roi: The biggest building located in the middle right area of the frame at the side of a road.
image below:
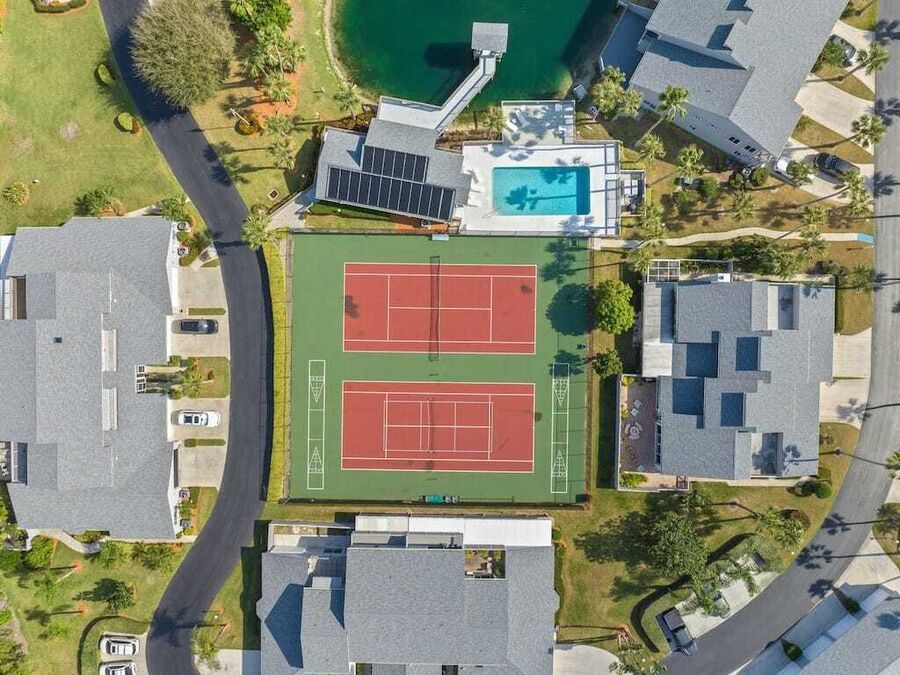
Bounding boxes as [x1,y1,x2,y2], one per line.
[618,260,833,495]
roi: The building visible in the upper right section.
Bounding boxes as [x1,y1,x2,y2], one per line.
[601,0,849,169]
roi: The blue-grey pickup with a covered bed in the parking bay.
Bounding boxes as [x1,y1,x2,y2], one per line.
[658,602,694,650]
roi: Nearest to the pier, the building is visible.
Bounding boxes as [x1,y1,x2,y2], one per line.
[316,119,471,223]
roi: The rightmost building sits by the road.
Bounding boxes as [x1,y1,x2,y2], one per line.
[767,579,900,675]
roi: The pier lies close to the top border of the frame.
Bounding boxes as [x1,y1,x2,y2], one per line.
[376,22,509,130]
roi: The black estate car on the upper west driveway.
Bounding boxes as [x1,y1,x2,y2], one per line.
[175,317,215,336]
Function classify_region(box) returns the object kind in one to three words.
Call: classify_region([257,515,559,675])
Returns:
building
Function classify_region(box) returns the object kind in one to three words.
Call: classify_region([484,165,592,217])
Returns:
swimming pool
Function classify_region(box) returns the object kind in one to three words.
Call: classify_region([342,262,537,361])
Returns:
tennis court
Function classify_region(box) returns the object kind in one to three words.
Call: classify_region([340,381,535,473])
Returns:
tennis court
